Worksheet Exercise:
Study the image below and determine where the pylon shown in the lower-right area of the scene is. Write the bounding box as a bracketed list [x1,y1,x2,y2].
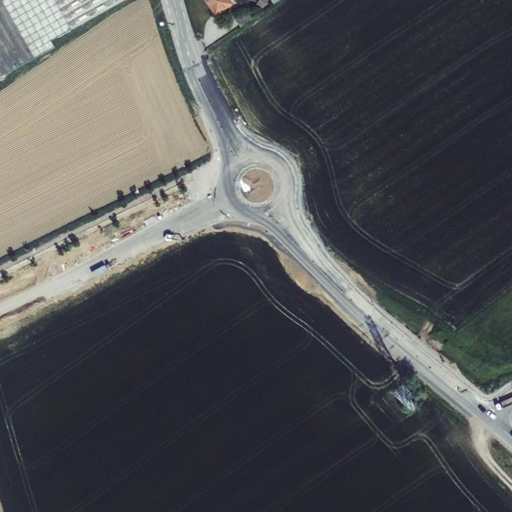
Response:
[394,384,416,414]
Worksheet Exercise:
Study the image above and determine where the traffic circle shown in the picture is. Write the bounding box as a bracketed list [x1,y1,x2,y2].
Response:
[234,162,282,210]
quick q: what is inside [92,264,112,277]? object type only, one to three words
vehicle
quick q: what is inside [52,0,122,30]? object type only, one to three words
greenhouse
